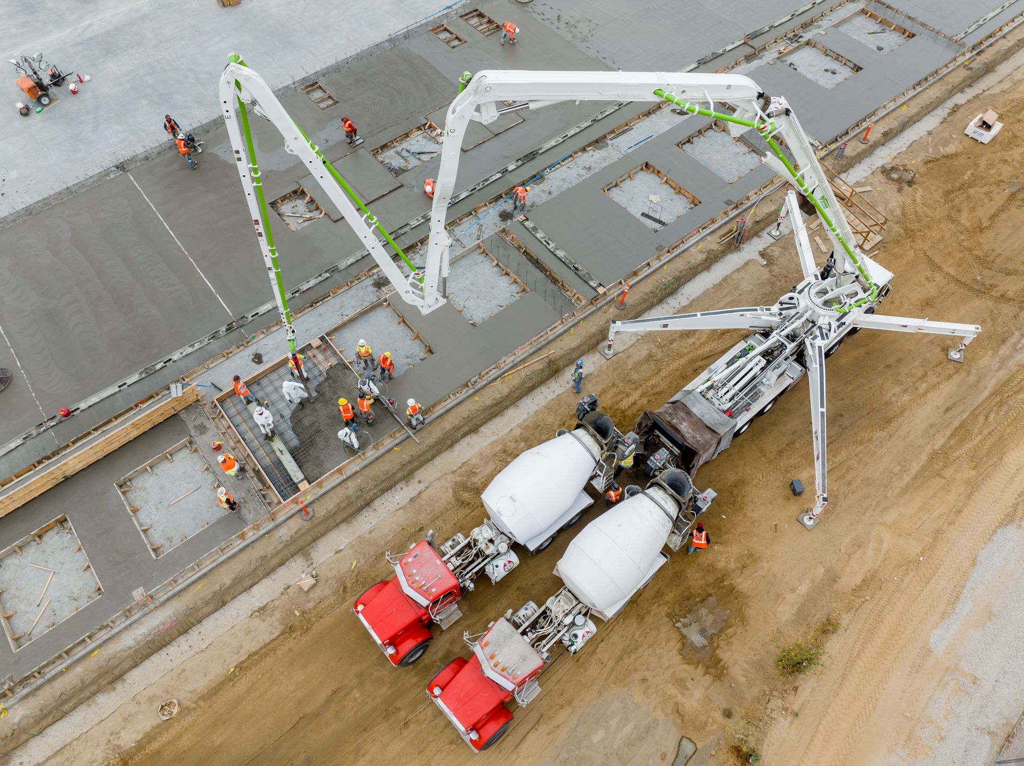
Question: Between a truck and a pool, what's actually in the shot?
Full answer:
I can see a truck in this picture.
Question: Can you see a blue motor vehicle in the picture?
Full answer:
No, the scene contains no blue motor vehicle.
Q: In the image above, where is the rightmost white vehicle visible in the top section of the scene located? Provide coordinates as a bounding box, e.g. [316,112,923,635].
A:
[218,50,988,525]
